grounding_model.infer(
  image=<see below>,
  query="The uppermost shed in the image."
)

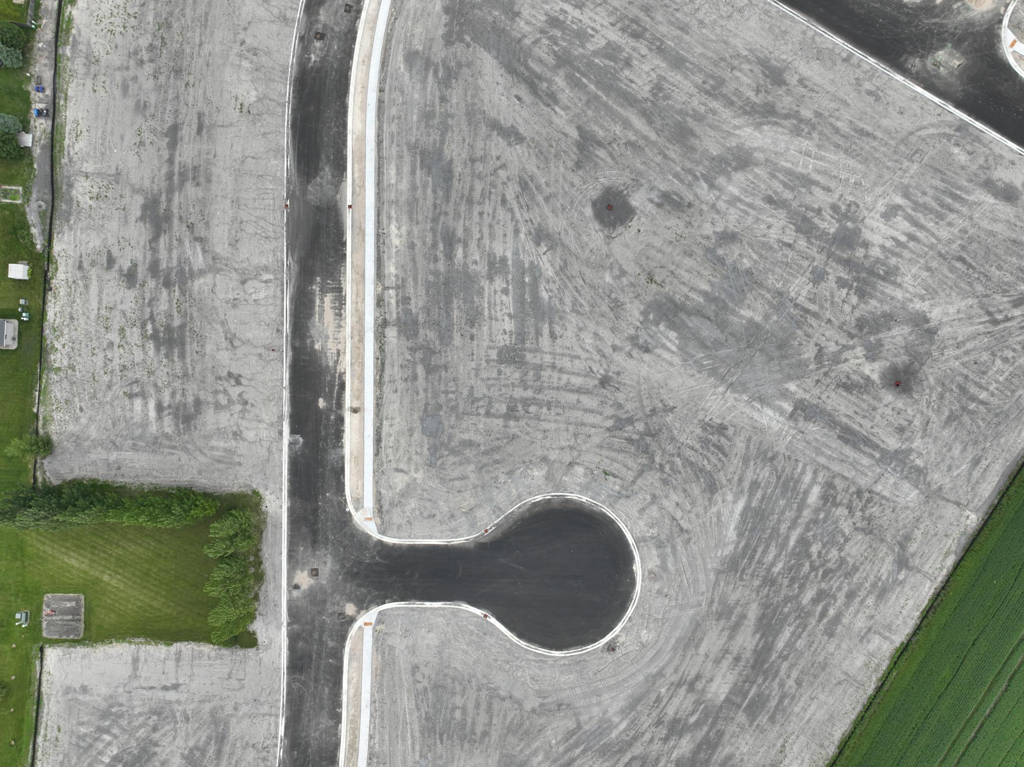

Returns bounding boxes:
[11,263,35,281]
